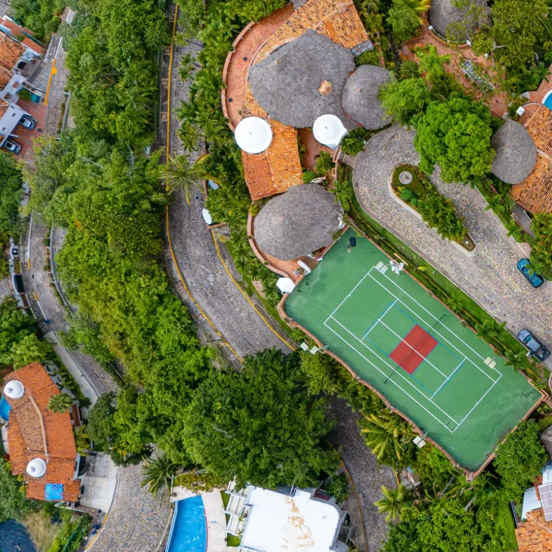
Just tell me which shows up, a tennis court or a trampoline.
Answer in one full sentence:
Looking from above, you can make out a tennis court.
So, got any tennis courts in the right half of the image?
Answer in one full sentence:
Yes, you'll find a tennis court in the right half of the image.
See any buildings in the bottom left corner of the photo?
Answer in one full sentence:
Yes, a building is visible in the bottom left corner of the photo.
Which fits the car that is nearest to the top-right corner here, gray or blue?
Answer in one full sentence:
In this view, the car that is nearest to the top-right corner is blue.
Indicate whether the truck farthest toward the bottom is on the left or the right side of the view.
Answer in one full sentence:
The truck farthest toward the bottom is on the right side of the image.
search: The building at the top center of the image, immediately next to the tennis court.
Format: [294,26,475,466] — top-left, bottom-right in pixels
[220,0,395,278]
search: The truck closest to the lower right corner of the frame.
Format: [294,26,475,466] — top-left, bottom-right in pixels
[516,326,552,366]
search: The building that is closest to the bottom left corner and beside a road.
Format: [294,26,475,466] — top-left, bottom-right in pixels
[1,362,86,502]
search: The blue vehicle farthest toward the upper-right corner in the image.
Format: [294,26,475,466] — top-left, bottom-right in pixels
[516,257,544,290]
